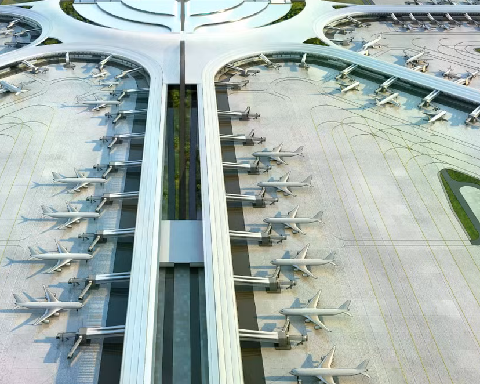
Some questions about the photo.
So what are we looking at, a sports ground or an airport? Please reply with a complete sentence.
What you see here is an airport.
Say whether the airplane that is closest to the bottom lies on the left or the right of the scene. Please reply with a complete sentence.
The airplane that is closest to the bottom is on the right side of the image.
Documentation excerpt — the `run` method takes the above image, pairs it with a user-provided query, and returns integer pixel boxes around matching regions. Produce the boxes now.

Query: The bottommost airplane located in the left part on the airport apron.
[11,280,84,326]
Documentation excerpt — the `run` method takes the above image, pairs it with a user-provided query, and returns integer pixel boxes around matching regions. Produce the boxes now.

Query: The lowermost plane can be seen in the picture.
[290,340,374,384]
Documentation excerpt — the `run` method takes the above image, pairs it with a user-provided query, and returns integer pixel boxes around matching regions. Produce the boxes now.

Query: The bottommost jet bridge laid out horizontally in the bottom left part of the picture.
[54,327,127,362]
